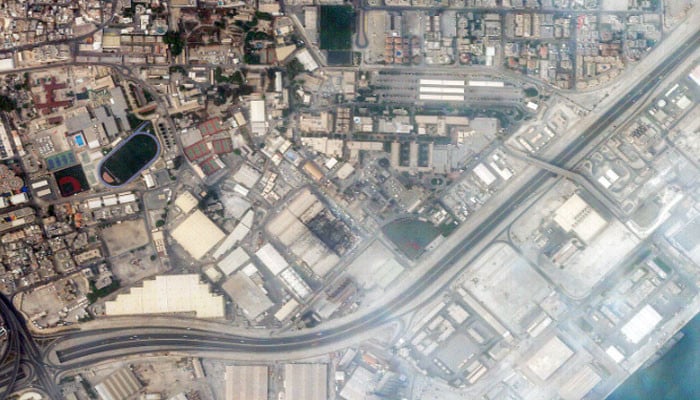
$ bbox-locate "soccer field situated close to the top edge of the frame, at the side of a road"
[320,5,355,50]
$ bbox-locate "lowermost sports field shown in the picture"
[100,134,158,185]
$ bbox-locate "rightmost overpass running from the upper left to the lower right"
[501,142,643,240]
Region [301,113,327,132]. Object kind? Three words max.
building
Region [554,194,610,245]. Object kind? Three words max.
building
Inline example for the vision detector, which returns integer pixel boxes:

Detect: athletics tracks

[98,120,160,187]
